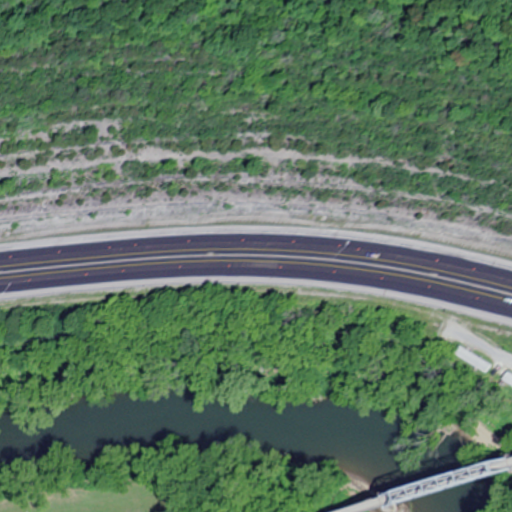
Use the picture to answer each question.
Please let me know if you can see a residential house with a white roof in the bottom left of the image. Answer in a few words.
No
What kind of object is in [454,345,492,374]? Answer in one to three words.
house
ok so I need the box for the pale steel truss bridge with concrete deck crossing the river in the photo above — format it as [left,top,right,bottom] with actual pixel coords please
[322,453,512,512]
